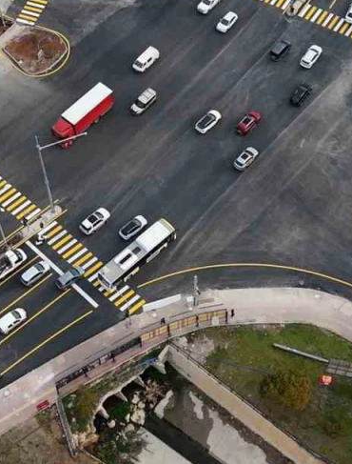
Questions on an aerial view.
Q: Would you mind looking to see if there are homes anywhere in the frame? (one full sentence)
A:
No, there is no home in the image.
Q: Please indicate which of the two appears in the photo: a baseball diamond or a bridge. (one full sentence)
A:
The image shows a bridge.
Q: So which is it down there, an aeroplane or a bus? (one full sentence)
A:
This aerial view contains a bus.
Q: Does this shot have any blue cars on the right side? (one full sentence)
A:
No, no blue car can be made out on the right side.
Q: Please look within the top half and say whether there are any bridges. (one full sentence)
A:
No, there is no bridge within the top half.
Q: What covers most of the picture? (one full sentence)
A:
What you mostly see from above here is paved ground.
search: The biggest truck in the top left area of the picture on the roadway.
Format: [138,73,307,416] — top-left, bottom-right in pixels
[48,82,115,146]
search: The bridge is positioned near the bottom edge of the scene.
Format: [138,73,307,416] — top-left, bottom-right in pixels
[63,341,175,454]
